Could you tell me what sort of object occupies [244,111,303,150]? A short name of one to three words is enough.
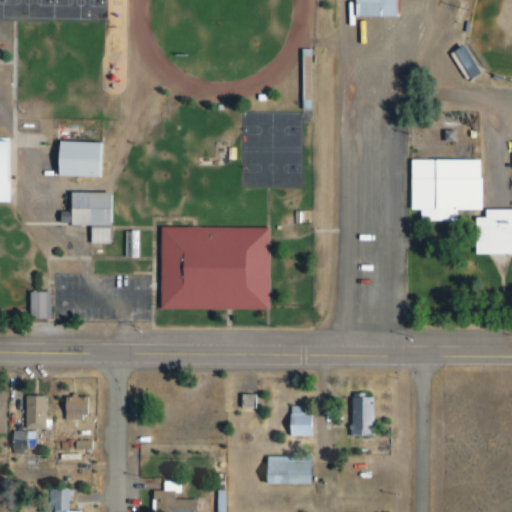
basketball court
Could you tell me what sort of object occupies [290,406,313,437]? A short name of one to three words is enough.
house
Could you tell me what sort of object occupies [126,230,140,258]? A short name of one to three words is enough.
greenhouse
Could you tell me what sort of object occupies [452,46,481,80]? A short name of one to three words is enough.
building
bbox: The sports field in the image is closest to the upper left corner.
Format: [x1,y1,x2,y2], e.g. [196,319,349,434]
[148,0,294,82]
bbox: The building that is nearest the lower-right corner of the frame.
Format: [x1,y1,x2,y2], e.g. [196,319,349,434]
[352,394,374,438]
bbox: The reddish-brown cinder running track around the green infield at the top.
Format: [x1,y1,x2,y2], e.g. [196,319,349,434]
[132,0,310,98]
